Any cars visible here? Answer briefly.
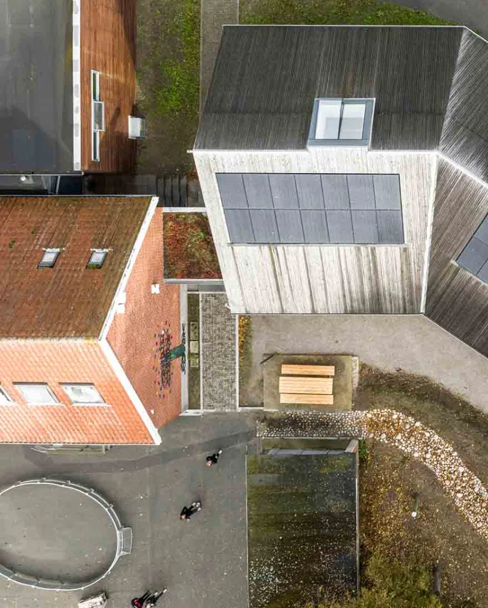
No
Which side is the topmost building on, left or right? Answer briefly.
left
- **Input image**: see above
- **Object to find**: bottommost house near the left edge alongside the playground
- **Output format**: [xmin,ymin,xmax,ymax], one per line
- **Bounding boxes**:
[0,193,187,448]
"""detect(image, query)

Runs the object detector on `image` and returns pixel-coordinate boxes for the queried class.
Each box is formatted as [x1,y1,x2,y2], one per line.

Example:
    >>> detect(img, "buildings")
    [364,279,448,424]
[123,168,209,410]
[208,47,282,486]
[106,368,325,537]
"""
[247,435,362,608]
[0,0,137,177]
[187,25,488,359]
[0,193,187,448]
